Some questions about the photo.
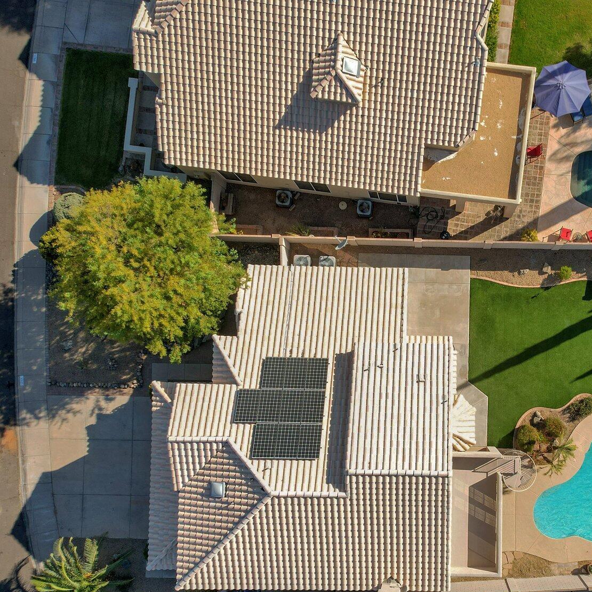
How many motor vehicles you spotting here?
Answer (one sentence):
Not a single motor vehicle can be seen.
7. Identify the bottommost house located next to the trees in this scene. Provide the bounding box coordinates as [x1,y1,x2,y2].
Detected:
[145,265,501,592]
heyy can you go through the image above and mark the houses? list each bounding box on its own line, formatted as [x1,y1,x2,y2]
[132,0,535,221]
[145,265,501,592]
